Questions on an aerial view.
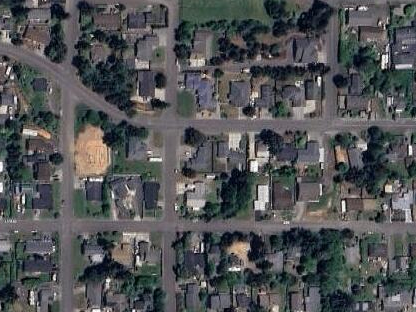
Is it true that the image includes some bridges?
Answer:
No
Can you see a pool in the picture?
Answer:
No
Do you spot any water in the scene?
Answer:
No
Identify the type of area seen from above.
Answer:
residential area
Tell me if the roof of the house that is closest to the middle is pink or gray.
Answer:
gray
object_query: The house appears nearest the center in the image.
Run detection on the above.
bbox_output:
[190,143,212,171]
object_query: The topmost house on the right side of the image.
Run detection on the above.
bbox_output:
[346,8,386,25]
